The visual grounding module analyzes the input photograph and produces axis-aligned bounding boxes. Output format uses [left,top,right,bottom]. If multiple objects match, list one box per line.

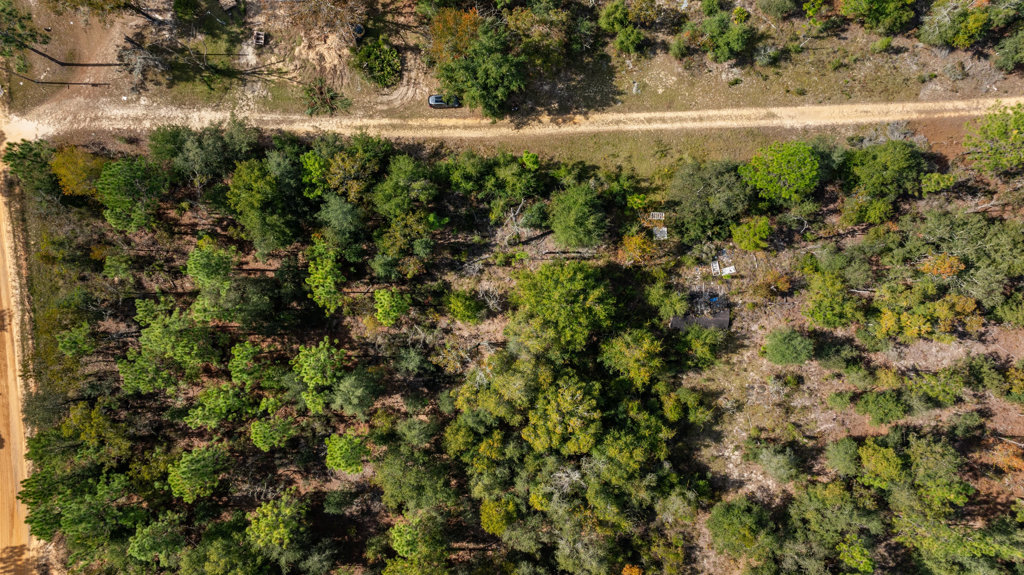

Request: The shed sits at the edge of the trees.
[670,282,732,332]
